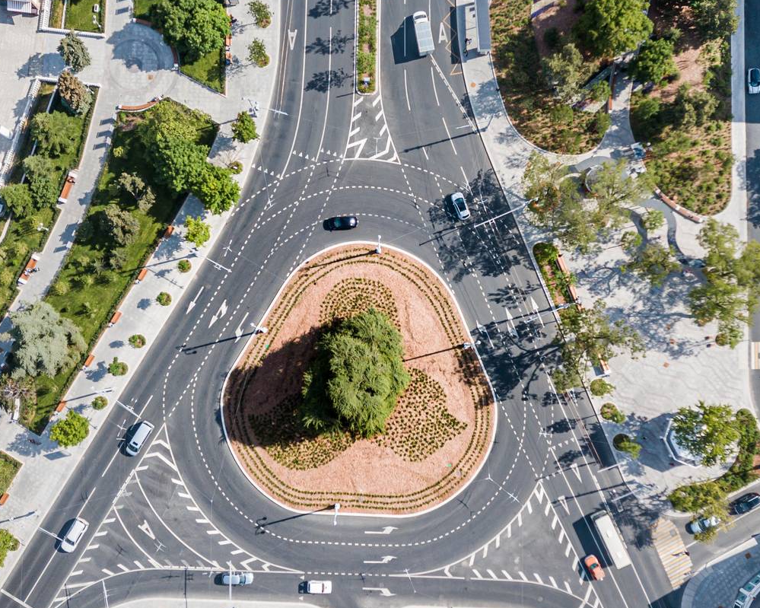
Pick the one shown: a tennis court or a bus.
bus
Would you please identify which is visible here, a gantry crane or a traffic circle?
traffic circle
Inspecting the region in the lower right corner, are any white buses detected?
Yes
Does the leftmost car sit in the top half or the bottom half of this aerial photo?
bottom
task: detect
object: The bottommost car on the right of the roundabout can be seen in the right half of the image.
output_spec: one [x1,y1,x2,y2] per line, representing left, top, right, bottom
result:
[582,550,606,585]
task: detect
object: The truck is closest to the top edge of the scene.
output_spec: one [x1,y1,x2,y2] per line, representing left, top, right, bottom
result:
[413,12,435,59]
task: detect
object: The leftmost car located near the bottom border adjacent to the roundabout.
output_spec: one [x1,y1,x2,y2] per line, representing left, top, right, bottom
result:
[221,571,254,588]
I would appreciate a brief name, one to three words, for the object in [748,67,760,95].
vehicle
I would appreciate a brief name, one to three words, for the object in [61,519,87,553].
car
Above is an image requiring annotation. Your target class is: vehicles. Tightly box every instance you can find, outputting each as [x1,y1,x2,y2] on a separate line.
[450,191,468,223]
[124,419,154,456]
[582,550,606,585]
[732,493,760,515]
[587,508,631,569]
[61,519,87,553]
[302,580,332,596]
[325,216,358,231]
[221,571,254,588]
[748,67,760,95]
[413,12,435,59]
